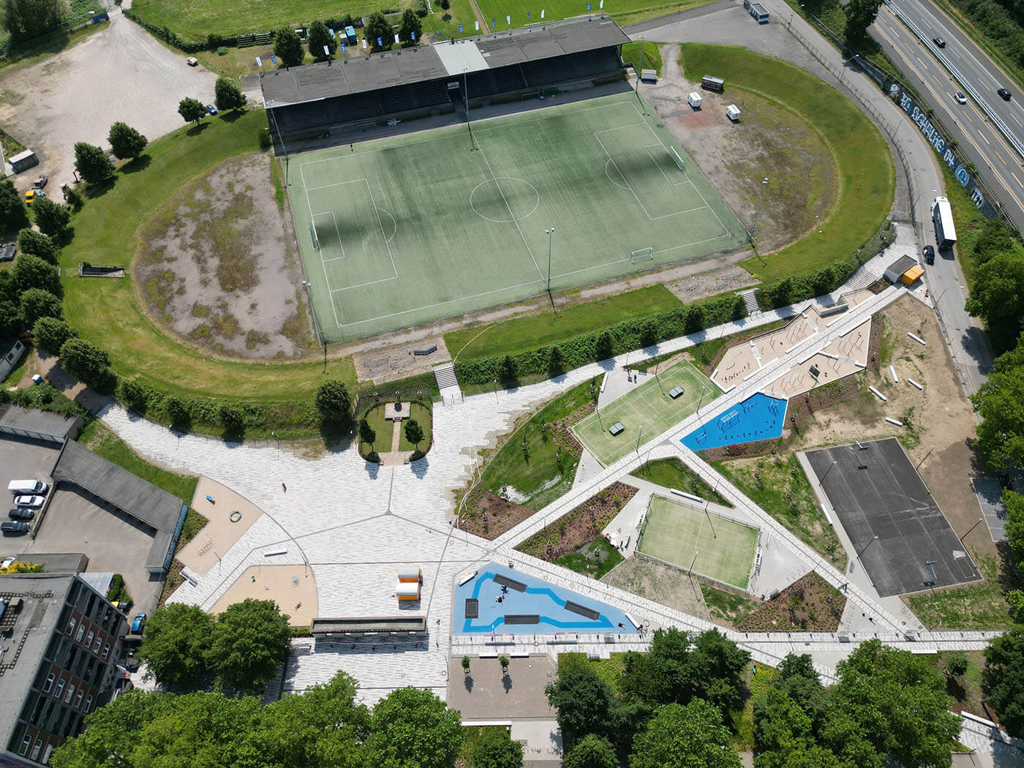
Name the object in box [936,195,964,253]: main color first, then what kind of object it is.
white truck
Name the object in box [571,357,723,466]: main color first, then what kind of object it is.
green tennis court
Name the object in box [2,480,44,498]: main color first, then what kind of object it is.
white vehicle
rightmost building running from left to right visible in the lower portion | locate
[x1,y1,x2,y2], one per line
[311,616,426,637]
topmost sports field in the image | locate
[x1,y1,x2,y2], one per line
[477,0,707,32]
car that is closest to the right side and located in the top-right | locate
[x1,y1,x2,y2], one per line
[998,88,1015,100]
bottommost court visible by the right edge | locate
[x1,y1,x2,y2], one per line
[796,437,986,598]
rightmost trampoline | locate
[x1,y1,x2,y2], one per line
[564,600,600,621]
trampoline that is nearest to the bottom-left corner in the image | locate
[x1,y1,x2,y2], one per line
[465,598,479,619]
